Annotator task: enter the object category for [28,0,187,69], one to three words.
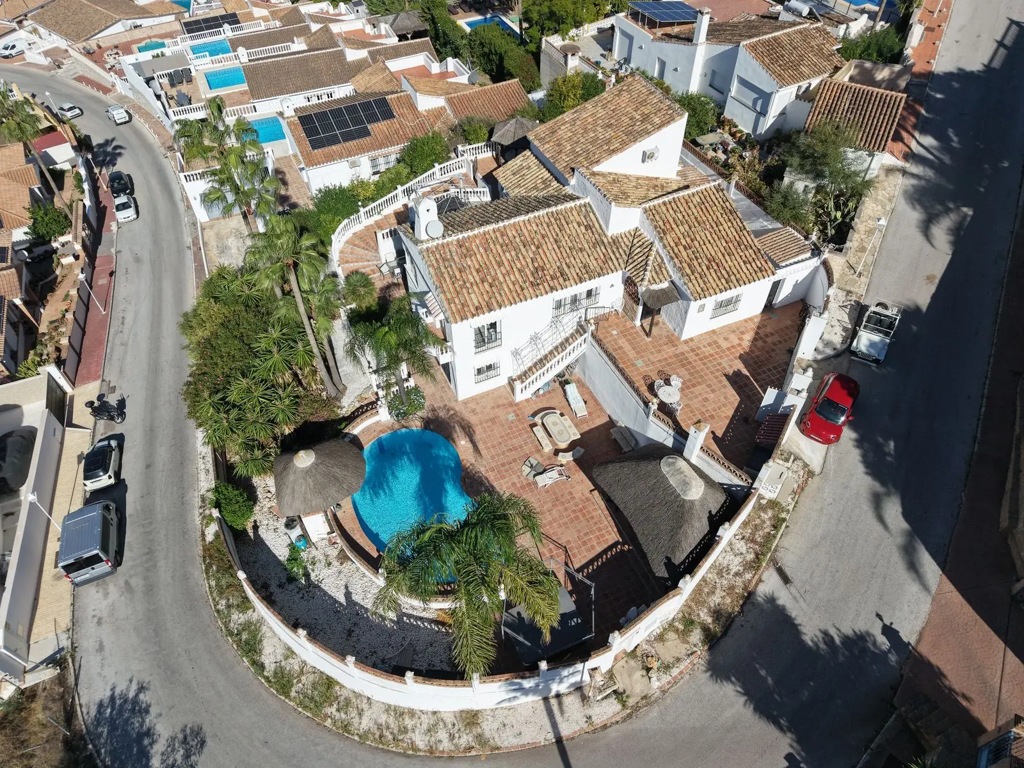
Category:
house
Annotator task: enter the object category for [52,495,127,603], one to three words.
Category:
van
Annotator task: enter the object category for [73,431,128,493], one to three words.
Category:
car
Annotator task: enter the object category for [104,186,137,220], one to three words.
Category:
car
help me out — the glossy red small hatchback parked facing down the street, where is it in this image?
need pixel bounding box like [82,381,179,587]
[802,369,867,444]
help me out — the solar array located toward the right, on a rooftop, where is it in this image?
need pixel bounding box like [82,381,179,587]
[623,1,717,42]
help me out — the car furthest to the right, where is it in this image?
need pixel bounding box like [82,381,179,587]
[850,292,909,368]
